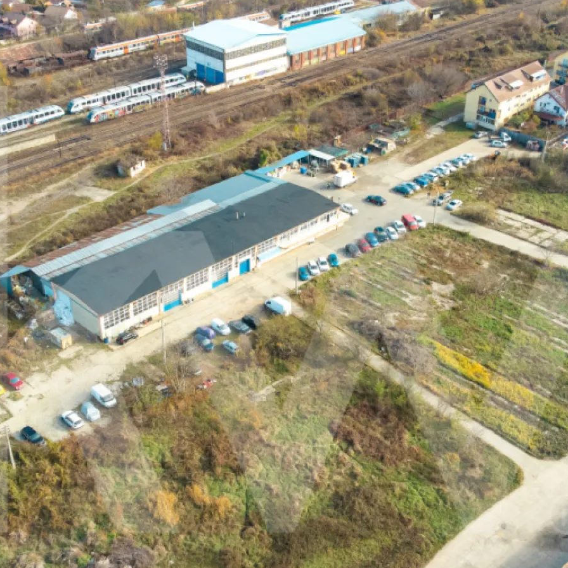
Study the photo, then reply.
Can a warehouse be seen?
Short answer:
Yes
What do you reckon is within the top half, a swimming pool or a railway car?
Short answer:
railway car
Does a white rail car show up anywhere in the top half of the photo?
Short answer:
Yes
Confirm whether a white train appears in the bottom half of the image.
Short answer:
No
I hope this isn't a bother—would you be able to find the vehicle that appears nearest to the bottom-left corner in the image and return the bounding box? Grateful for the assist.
[18,424,47,446]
